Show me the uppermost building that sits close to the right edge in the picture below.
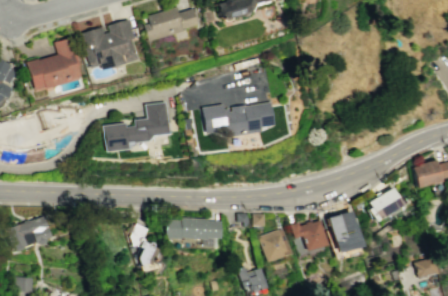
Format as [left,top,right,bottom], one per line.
[414,160,448,188]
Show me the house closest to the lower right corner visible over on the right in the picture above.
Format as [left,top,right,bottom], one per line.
[414,260,440,278]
